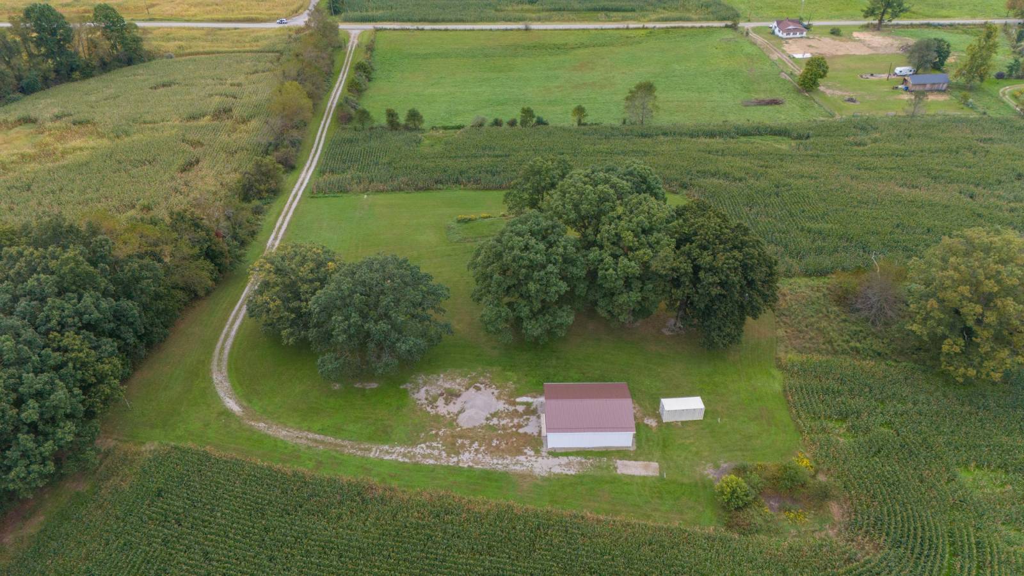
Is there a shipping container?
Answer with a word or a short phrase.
Yes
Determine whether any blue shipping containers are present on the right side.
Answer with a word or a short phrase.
No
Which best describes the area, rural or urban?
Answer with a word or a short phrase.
rural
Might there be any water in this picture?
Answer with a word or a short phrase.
No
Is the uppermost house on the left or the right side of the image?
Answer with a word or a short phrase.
right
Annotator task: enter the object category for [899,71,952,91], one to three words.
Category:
barn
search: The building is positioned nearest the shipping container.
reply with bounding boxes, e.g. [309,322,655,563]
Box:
[541,382,637,449]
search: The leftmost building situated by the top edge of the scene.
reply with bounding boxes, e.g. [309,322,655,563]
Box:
[774,14,813,38]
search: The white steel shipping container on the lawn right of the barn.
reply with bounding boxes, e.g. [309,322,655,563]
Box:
[659,395,706,423]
